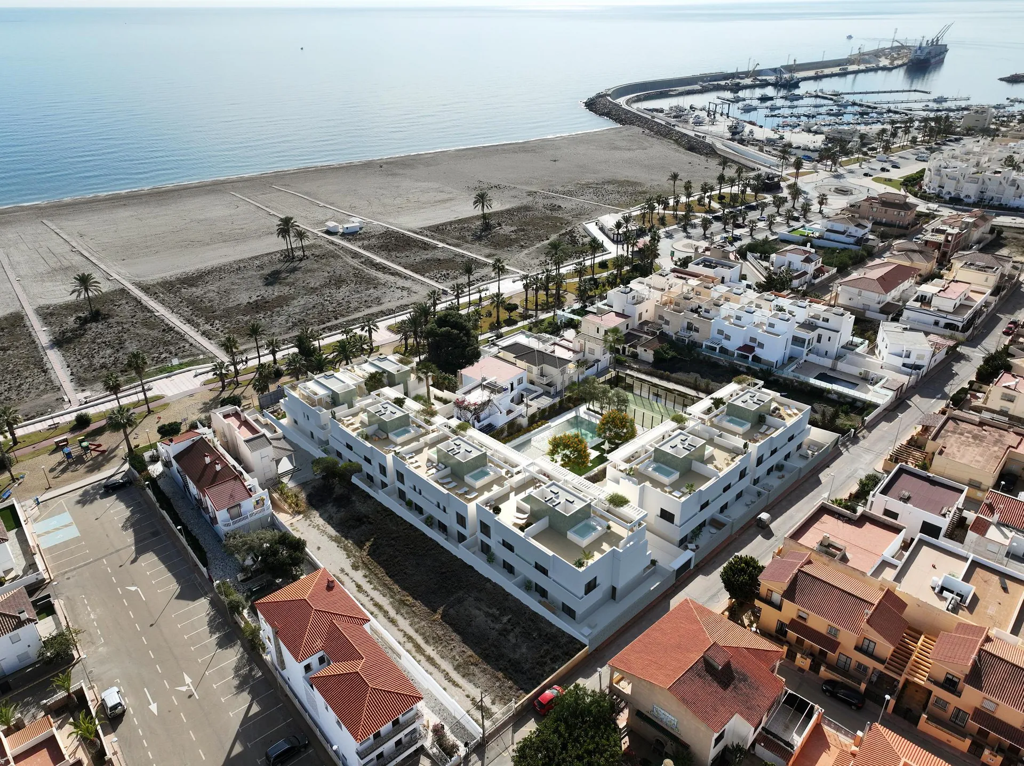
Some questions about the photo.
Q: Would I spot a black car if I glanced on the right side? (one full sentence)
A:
Yes, looking on the right side, one can make out a black car.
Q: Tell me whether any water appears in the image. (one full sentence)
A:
Yes, the picture does contain water.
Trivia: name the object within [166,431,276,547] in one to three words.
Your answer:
house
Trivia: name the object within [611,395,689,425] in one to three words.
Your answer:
sports court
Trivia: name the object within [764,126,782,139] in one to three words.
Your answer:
boat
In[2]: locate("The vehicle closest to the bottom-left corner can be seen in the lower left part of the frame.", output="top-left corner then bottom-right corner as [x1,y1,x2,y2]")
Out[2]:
[99,683,128,720]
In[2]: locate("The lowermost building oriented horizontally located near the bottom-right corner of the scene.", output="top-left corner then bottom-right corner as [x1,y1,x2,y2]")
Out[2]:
[843,716,959,766]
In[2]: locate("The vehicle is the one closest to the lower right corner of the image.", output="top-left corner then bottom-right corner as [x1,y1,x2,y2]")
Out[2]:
[819,679,868,712]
